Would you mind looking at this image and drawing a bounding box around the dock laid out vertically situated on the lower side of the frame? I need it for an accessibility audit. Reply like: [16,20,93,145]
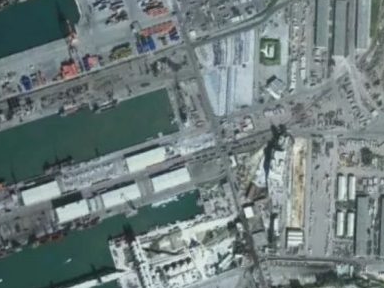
[109,235,133,288]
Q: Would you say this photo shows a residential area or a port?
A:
port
